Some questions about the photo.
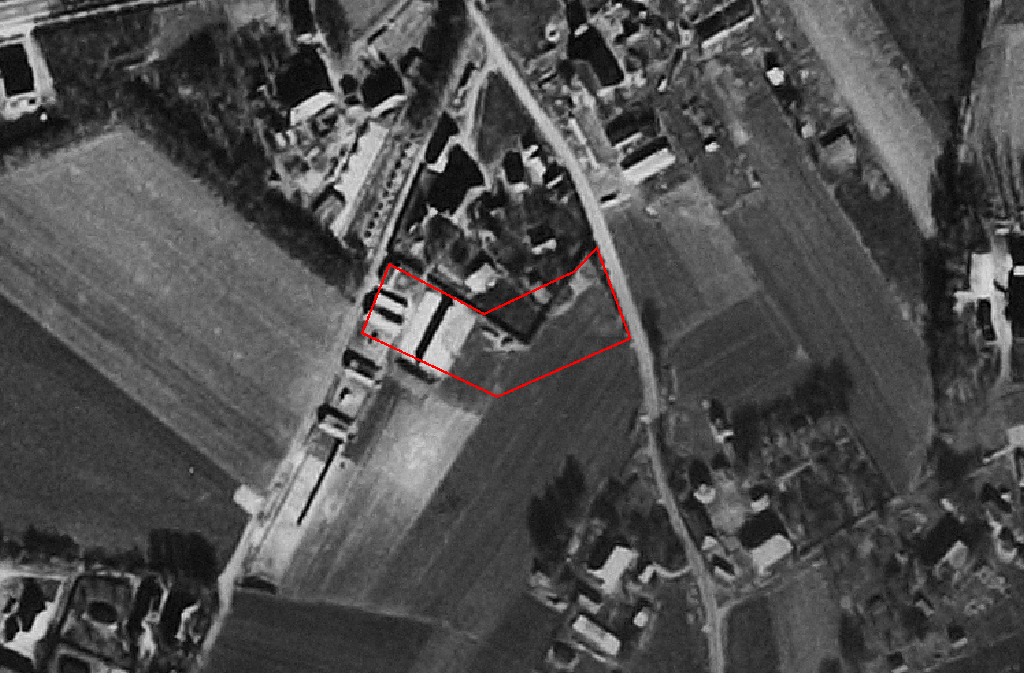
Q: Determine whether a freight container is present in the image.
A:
No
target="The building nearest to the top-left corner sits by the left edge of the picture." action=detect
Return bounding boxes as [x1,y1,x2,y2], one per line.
[0,50,34,95]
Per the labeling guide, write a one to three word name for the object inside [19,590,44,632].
house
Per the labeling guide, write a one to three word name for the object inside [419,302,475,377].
shed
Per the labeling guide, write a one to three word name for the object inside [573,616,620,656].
building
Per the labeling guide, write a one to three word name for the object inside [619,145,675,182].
barn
